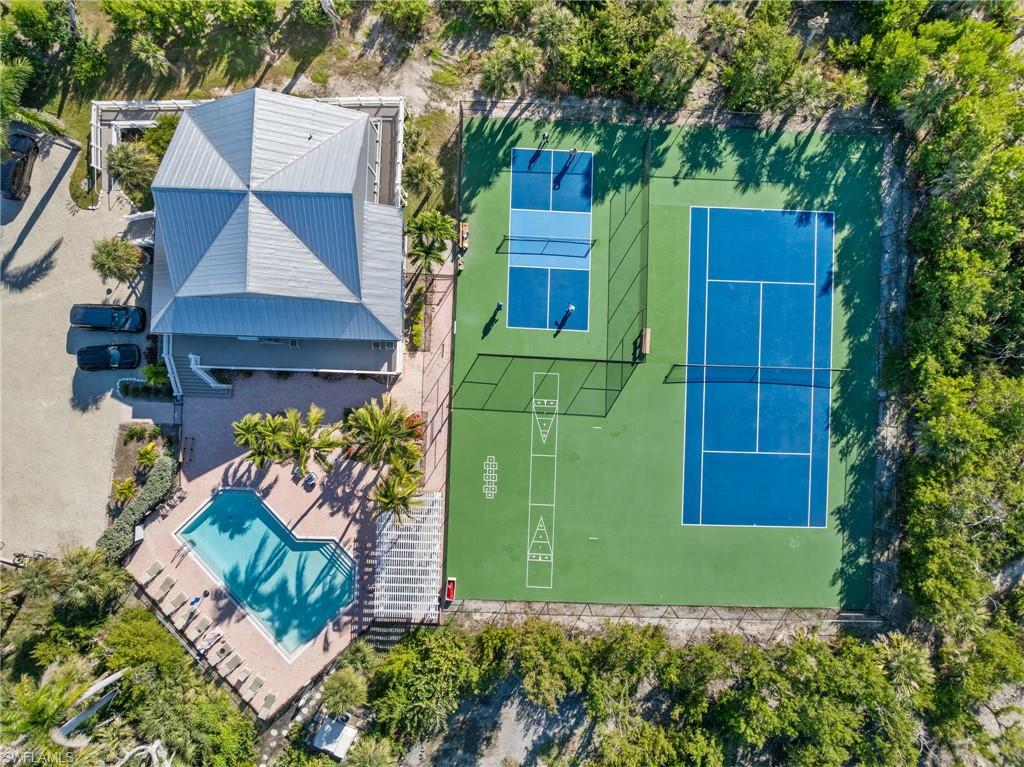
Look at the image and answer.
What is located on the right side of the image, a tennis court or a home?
tennis court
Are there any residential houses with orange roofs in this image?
No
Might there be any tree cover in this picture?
Yes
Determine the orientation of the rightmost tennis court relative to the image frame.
from top to bottom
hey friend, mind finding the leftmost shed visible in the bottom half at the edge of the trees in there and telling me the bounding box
[314,707,362,759]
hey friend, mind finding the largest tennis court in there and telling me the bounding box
[682,206,834,528]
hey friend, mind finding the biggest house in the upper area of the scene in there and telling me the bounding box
[123,86,405,399]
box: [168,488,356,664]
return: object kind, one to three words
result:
swimming pool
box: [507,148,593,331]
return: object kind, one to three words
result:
sports court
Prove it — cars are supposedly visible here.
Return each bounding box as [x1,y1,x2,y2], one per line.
[0,133,47,203]
[68,301,150,336]
[77,341,146,374]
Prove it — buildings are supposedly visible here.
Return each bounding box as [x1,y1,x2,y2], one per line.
[123,86,405,399]
[314,707,362,759]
